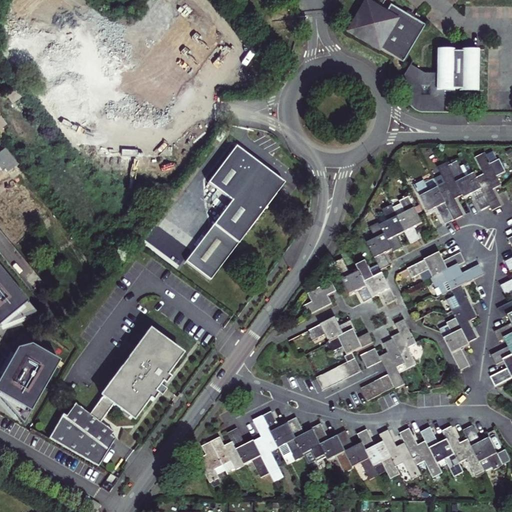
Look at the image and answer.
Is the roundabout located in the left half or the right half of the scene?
right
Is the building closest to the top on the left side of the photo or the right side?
right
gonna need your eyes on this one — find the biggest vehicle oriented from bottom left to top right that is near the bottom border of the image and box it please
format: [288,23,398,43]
[102,471,118,488]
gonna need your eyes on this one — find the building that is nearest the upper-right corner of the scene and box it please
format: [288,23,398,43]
[438,46,480,92]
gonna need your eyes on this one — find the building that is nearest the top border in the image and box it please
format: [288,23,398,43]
[346,0,426,63]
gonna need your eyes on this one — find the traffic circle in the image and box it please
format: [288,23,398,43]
[256,18,440,212]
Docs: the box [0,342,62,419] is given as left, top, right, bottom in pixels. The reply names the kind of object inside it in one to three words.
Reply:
building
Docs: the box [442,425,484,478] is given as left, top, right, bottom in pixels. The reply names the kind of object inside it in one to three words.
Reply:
house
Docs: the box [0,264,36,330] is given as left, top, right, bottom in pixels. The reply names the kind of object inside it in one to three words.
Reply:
building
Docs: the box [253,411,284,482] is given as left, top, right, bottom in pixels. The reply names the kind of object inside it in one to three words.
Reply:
house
